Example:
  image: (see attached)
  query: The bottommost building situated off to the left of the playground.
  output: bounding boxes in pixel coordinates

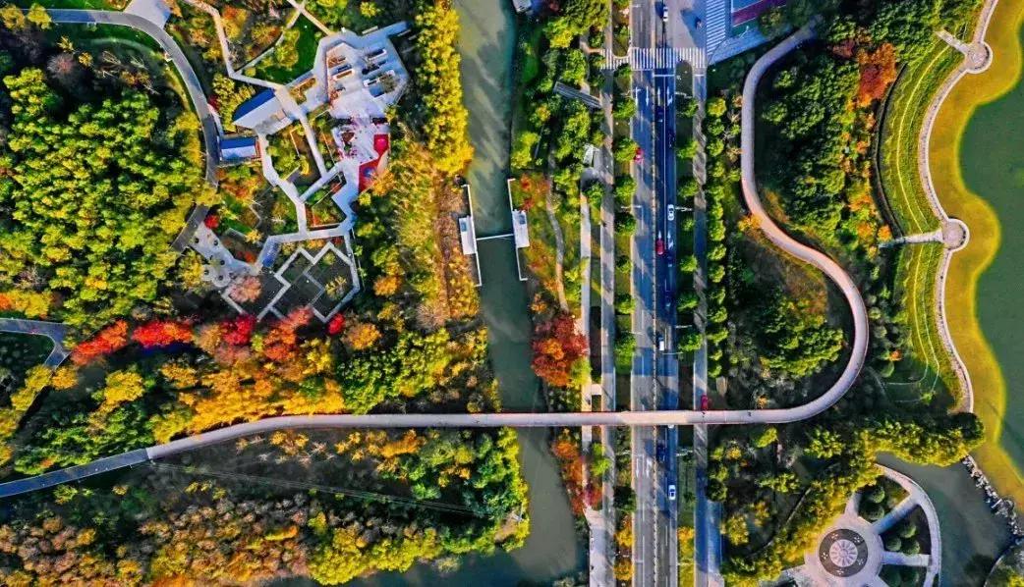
[220,136,261,162]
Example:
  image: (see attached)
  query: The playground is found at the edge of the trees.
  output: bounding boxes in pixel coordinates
[360,134,390,192]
